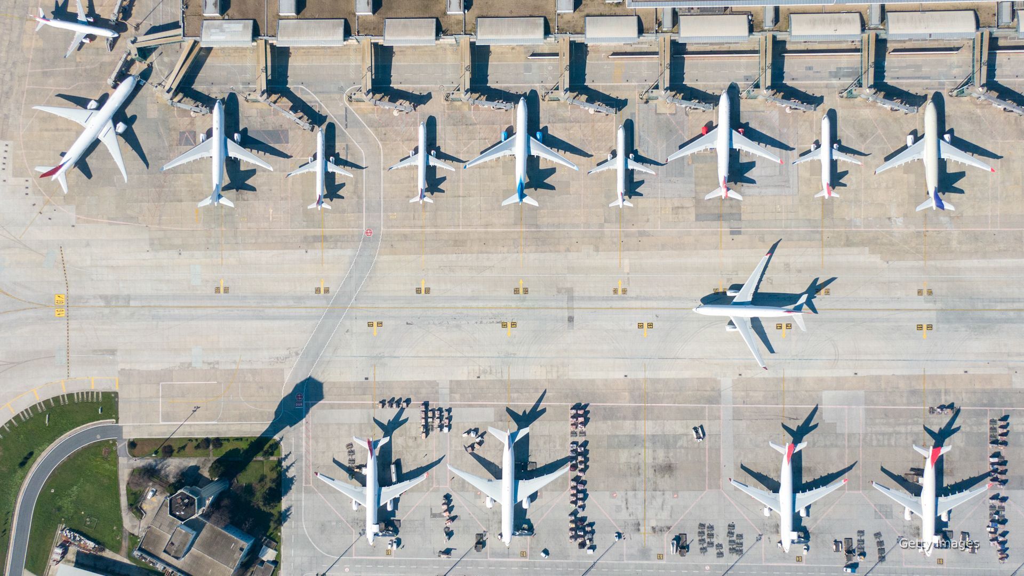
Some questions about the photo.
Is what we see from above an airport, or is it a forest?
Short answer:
airport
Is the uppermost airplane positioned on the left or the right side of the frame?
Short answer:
left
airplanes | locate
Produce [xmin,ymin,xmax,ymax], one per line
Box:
[29,0,118,57]
[588,125,655,208]
[315,437,426,545]
[874,445,993,556]
[692,256,817,370]
[30,76,136,193]
[730,442,848,553]
[876,99,996,212]
[448,428,569,546]
[793,115,862,199]
[388,122,454,204]
[160,100,269,207]
[464,97,578,206]
[667,90,783,200]
[286,127,352,210]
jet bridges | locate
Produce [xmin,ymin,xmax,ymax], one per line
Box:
[266,100,316,132]
[664,97,715,112]
[110,0,127,26]
[106,46,132,87]
[865,96,920,114]
[765,96,817,112]
[975,94,1024,118]
[468,98,516,111]
[566,98,619,115]
[167,101,212,117]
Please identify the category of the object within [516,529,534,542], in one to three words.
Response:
vehicle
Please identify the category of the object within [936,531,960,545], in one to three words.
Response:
work vehicle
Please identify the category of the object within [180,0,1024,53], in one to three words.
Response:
building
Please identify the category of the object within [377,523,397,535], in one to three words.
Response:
vehicle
